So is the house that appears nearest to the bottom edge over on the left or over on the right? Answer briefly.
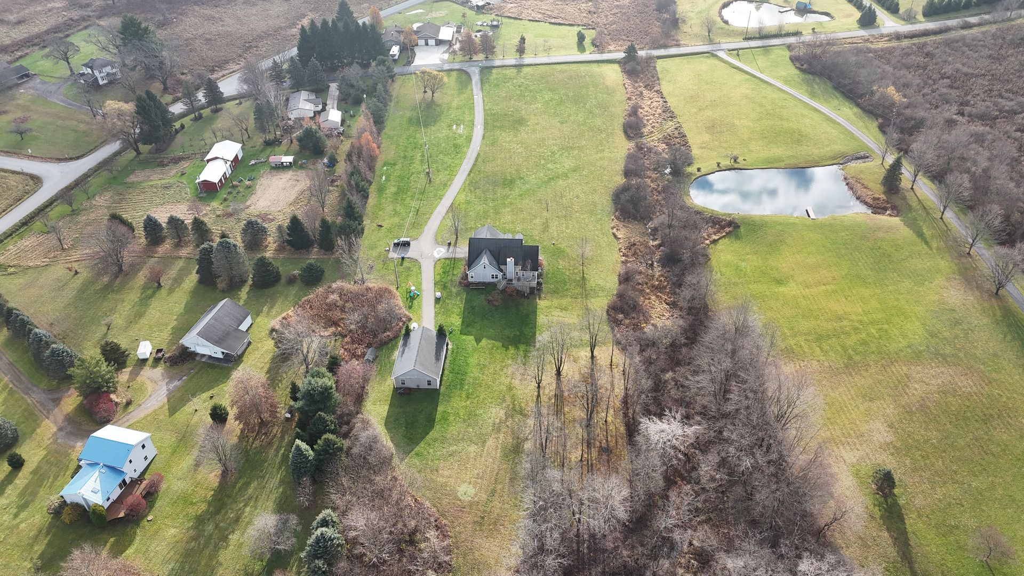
left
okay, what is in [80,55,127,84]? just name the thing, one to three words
house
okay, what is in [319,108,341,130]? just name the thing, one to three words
building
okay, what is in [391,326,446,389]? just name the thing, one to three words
building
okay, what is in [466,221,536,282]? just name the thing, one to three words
house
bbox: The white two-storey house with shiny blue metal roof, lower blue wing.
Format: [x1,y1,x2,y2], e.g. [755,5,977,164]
[52,424,159,515]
